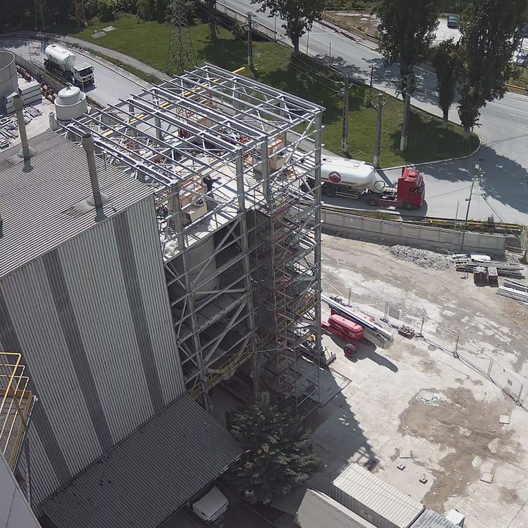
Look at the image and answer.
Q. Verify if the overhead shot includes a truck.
Yes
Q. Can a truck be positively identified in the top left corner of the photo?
Yes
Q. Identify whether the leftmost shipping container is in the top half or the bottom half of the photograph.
bottom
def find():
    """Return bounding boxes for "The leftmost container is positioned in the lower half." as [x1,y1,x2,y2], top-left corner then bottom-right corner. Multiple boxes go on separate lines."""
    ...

[334,461,428,528]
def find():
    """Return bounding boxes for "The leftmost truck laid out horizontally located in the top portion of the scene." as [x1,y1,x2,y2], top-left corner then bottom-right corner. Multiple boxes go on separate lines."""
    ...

[310,155,424,209]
